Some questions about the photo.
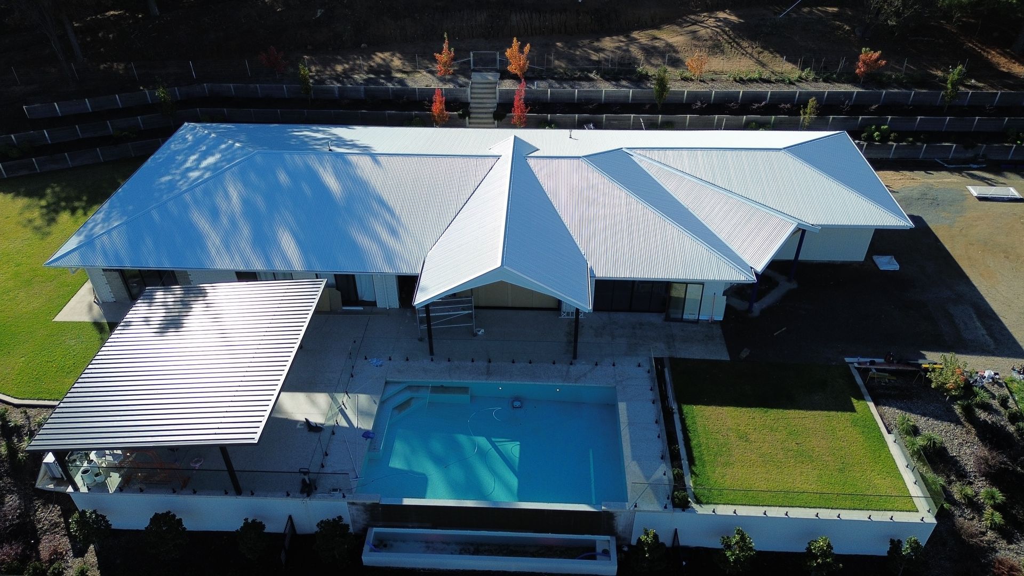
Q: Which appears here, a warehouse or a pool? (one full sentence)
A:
I can see a pool in this picture.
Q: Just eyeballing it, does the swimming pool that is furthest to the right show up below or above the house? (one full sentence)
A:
From this view, the swimming pool that is furthest to the right can be seen below the house.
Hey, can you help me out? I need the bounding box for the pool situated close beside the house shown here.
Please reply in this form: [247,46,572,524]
[355,382,628,516]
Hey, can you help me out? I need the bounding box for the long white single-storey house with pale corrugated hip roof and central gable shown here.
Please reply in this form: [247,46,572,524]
[41,123,918,359]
